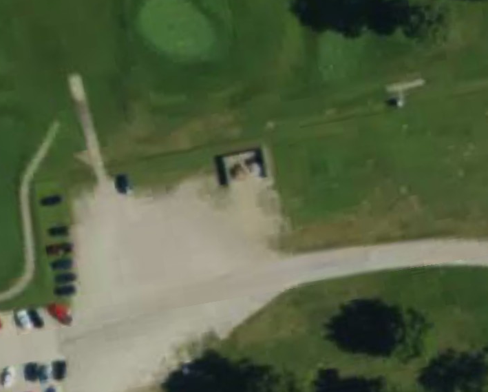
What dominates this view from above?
grass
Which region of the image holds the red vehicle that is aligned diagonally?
bottom left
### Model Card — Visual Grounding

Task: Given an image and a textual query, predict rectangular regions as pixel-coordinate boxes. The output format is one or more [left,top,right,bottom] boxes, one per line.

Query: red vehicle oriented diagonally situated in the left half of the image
[52,305,73,325]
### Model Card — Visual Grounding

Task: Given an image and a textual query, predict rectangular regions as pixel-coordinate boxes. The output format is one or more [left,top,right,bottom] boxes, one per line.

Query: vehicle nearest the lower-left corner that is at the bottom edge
[2,365,16,386]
